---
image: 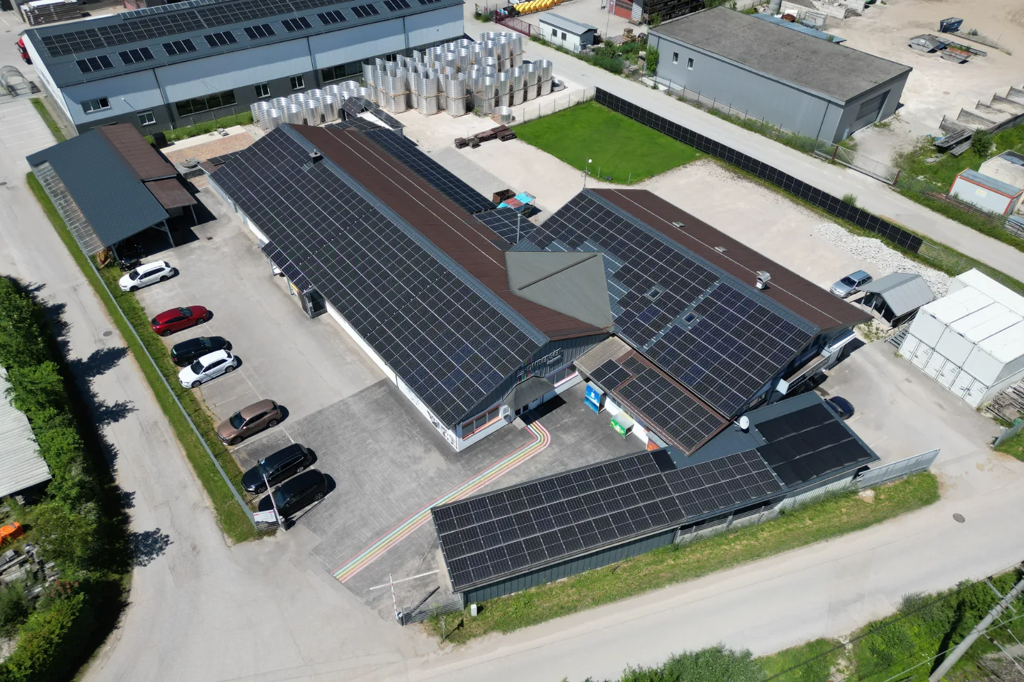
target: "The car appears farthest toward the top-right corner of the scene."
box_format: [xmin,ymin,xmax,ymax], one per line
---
[832,266,874,297]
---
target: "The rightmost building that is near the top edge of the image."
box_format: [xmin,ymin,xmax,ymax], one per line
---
[646,6,917,147]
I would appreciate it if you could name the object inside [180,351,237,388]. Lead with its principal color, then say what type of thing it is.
white car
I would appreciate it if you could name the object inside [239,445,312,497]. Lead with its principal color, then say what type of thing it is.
black car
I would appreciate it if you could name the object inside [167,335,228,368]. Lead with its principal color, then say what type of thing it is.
black car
